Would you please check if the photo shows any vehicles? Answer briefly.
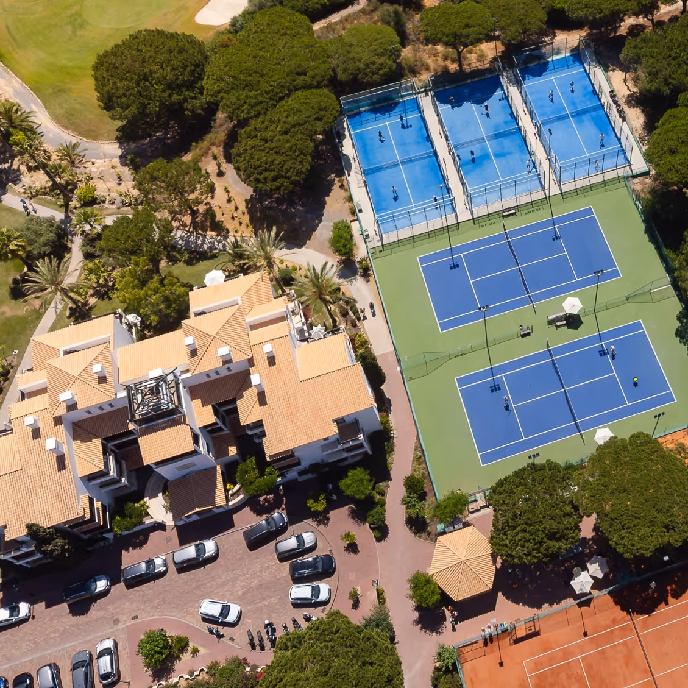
Yes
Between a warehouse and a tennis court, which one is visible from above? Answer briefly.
tennis court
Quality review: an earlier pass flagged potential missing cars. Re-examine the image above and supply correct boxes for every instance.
[68,649,94,688]
[61,574,107,605]
[288,552,334,578]
[7,669,35,688]
[0,600,30,626]
[240,512,287,548]
[287,581,330,605]
[35,659,61,688]
[92,637,118,687]
[119,555,165,584]
[273,531,317,559]
[171,539,217,569]
[195,598,242,626]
